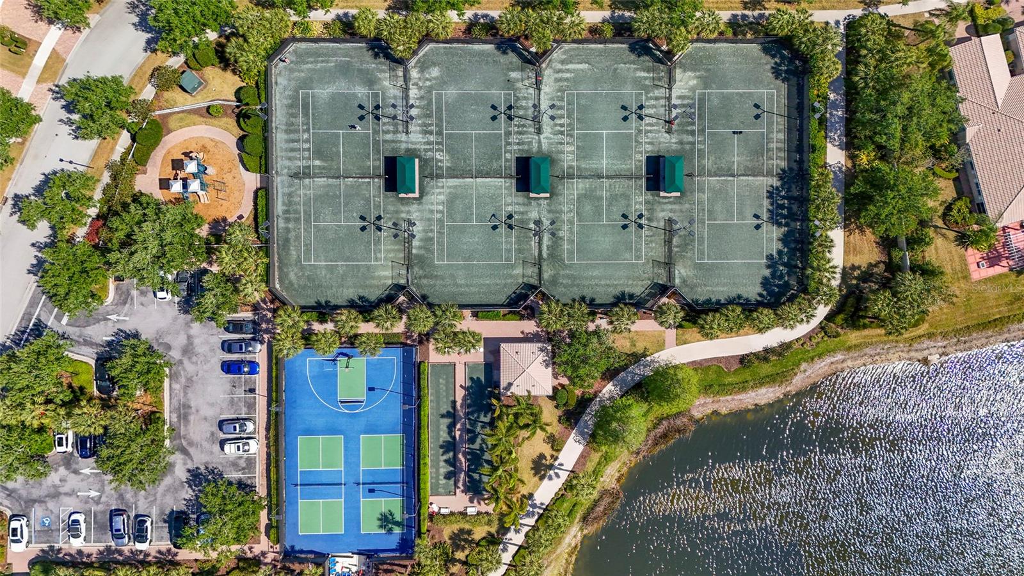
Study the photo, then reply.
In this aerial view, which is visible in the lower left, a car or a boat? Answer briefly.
car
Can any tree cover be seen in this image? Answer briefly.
Yes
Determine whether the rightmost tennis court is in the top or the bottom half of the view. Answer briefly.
top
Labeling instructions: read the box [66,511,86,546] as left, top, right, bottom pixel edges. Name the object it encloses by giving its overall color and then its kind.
white car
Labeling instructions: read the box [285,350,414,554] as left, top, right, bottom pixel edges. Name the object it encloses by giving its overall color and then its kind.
blue basketball court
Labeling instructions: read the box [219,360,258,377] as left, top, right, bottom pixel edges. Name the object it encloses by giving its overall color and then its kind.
blue car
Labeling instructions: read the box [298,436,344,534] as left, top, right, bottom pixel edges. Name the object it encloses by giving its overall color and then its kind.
green sports court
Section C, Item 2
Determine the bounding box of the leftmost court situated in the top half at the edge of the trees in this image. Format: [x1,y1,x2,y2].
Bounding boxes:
[275,43,408,308]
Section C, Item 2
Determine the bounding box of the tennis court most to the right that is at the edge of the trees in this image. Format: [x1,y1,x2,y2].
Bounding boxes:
[671,44,800,309]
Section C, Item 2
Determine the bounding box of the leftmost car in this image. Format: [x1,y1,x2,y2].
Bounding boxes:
[7,514,29,551]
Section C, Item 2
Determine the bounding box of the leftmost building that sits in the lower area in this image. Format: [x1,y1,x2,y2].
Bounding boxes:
[500,341,553,396]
